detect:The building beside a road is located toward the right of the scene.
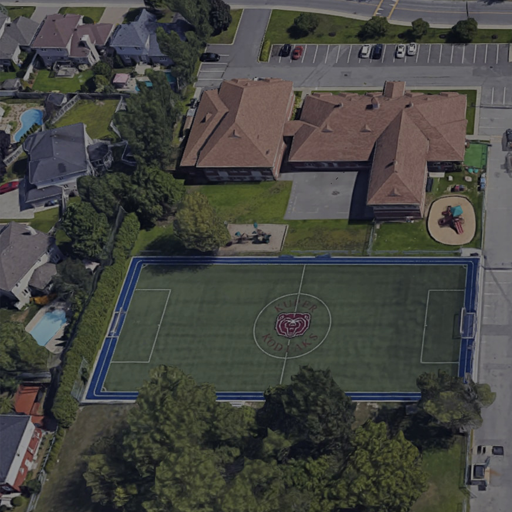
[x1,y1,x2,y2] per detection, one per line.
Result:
[178,65,468,222]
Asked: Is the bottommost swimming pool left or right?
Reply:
left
